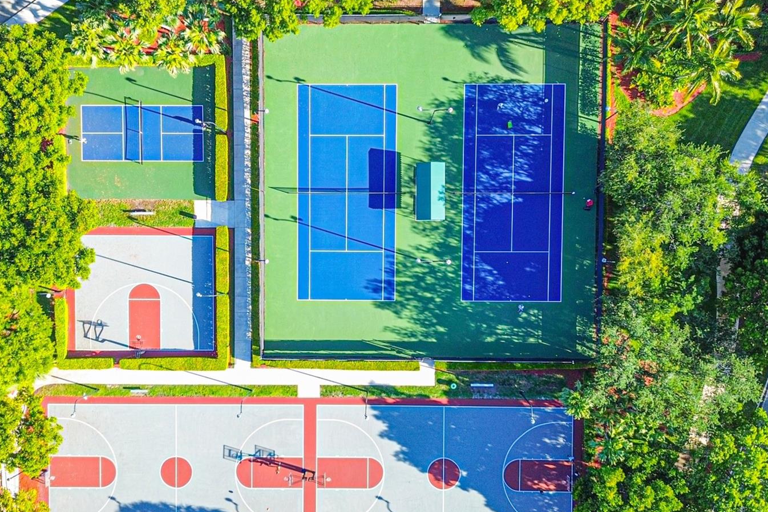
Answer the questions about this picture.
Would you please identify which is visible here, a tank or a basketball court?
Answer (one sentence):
Visible in the photo is a basketball court.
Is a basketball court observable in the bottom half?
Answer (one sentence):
Yes, a basketball court can be seen in the bottom half.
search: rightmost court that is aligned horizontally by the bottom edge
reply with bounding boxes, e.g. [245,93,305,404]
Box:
[310,397,581,512]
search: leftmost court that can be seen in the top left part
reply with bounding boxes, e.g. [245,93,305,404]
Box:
[65,66,217,201]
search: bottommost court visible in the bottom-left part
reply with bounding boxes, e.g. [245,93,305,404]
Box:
[40,395,310,512]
